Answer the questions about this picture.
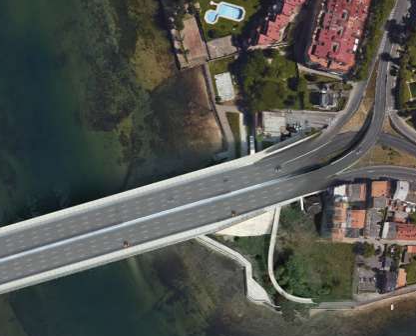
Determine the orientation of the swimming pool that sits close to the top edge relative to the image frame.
from side to side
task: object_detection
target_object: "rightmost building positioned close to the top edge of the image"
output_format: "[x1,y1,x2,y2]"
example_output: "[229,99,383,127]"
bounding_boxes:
[304,0,371,75]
